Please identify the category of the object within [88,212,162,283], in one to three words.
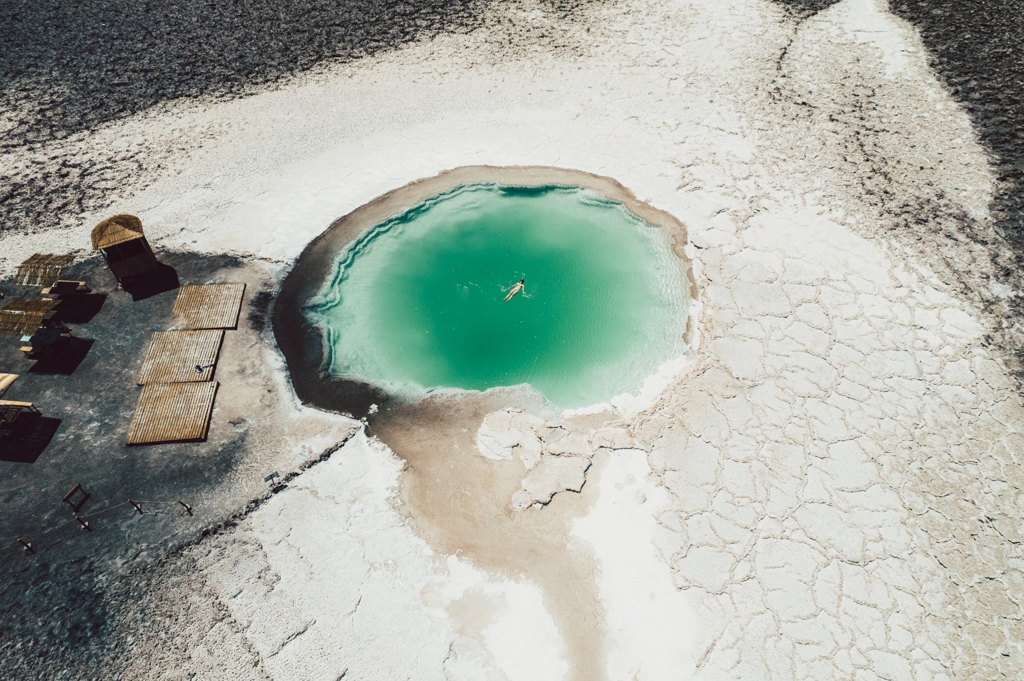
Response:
shed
